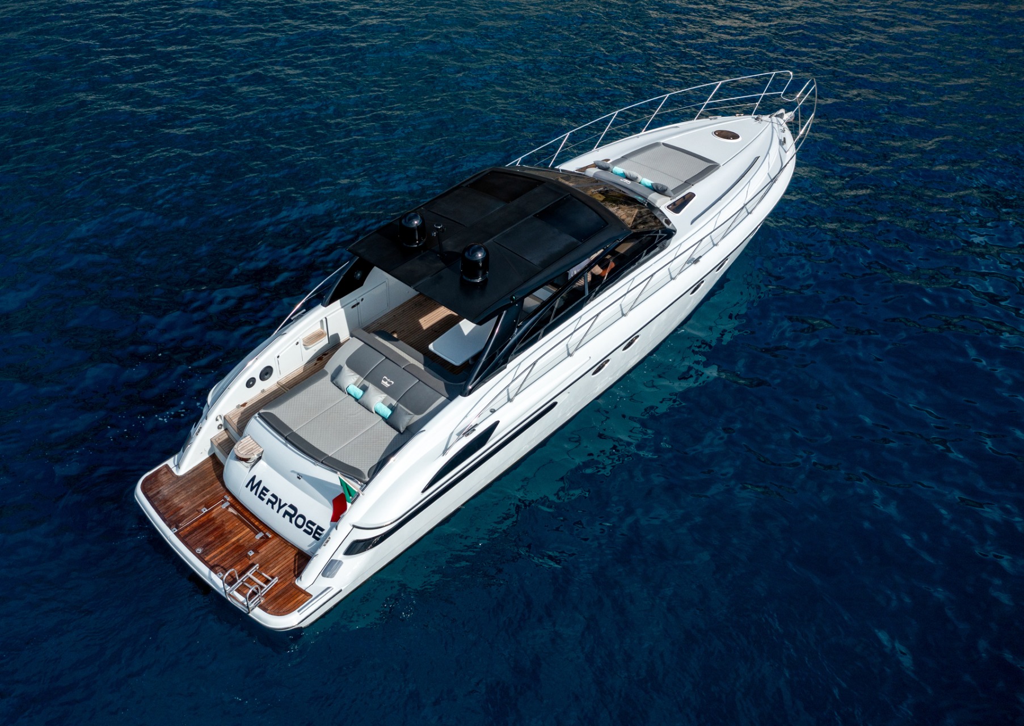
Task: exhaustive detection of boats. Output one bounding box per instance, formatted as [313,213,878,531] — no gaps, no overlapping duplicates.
[134,71,817,632]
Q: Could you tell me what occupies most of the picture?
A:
water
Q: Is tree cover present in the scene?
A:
No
